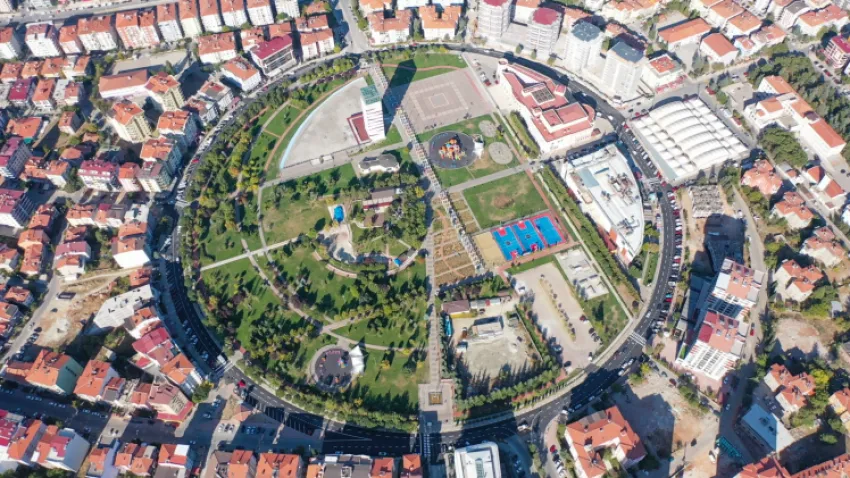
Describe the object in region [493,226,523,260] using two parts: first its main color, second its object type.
blue basketball court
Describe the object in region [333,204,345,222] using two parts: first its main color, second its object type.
blue swimming pool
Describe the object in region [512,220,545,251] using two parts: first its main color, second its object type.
blue basketball court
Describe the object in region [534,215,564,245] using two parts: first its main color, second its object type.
blue sports court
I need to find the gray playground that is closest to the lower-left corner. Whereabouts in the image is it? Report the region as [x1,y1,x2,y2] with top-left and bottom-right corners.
[310,344,356,389]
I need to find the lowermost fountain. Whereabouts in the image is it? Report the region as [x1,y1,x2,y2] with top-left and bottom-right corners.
[427,388,443,406]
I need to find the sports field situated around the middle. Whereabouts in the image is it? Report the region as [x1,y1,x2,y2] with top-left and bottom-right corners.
[463,171,548,227]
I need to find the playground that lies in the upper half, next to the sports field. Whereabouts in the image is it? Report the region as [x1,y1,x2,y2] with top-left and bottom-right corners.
[426,130,477,169]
